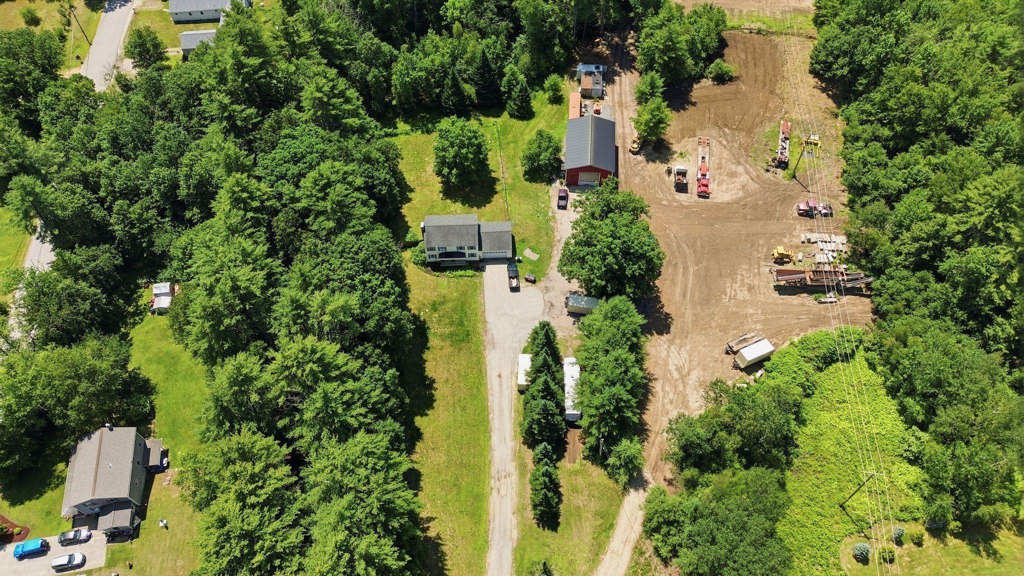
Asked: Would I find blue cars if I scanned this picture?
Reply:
Yes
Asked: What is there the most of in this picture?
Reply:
trees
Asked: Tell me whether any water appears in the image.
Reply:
No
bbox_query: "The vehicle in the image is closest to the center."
[507,262,520,289]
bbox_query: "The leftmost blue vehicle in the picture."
[9,536,46,559]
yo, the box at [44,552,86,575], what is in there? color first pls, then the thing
white car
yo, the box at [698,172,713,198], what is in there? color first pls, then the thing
red vehicle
